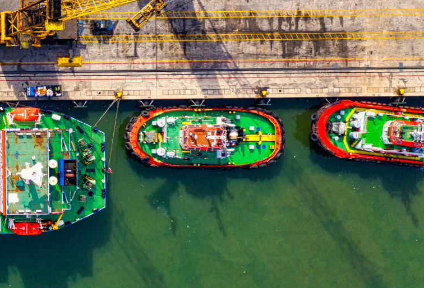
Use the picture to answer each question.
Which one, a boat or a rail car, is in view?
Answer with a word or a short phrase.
boat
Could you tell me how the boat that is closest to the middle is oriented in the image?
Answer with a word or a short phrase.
horizontally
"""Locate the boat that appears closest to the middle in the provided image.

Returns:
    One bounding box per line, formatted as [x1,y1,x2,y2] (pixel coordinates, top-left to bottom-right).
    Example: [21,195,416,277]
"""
[122,104,284,171]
